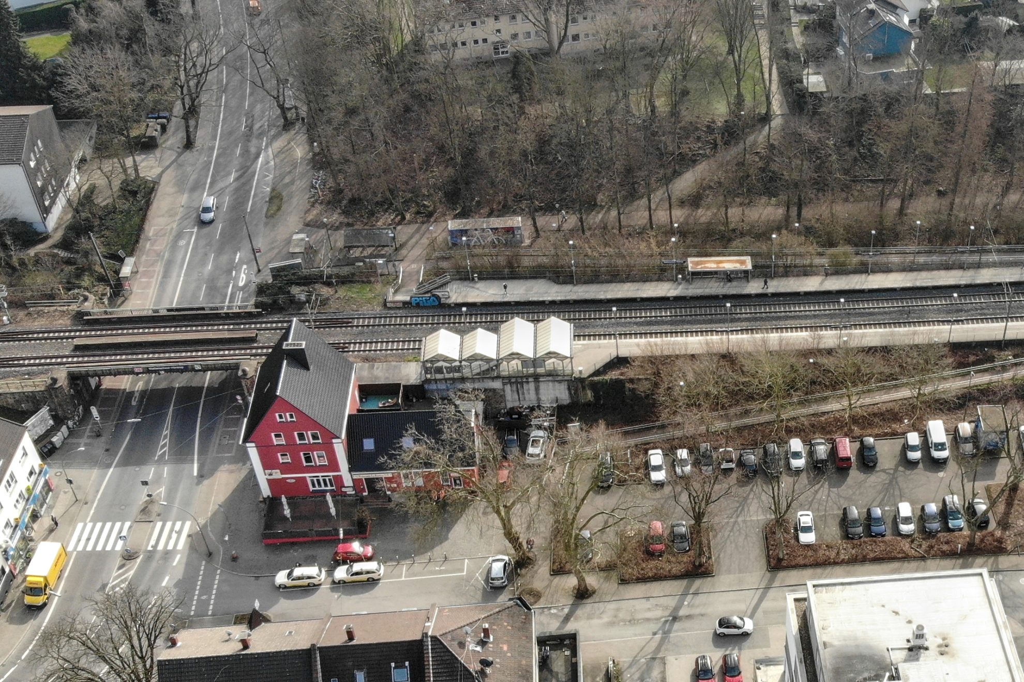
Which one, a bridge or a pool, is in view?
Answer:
bridge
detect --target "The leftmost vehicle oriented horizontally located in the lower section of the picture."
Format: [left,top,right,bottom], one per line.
[277,566,328,590]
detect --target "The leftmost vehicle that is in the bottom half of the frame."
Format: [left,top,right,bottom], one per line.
[21,536,72,608]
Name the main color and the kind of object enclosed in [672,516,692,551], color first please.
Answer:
gray car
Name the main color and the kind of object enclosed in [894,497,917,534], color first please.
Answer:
white car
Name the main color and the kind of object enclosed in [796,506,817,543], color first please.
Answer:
white car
